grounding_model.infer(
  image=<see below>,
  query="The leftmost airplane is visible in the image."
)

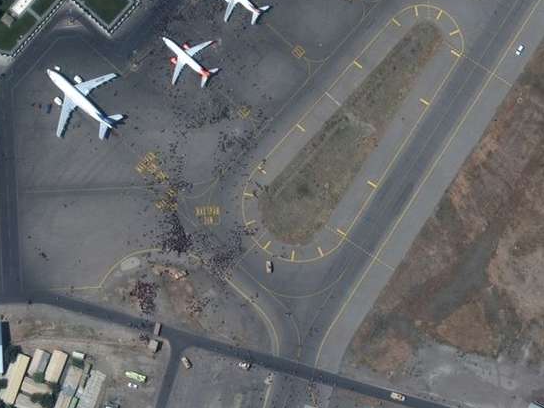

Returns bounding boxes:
[47,69,126,139]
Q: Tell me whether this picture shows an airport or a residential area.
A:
airport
